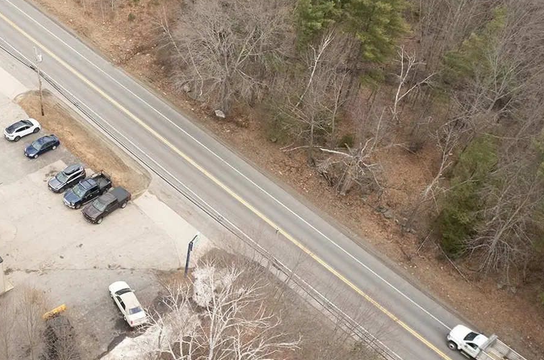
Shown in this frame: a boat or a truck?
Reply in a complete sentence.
Of the two, only a truck appears.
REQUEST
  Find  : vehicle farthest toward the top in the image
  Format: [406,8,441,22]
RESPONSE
[2,117,43,141]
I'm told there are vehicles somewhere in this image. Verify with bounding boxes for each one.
[110,279,149,328]
[82,185,132,223]
[61,169,114,209]
[2,117,43,141]
[44,161,86,193]
[443,325,524,360]
[23,133,64,158]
